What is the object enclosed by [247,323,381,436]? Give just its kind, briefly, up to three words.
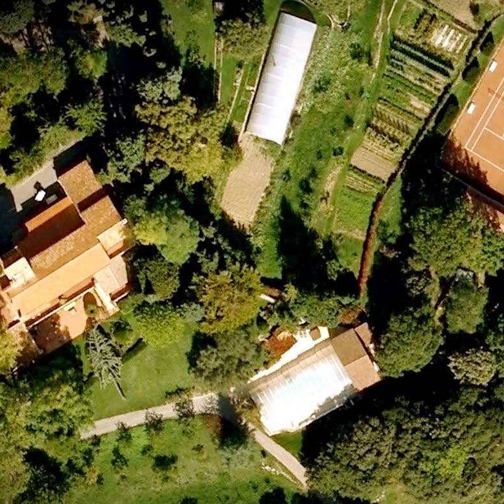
building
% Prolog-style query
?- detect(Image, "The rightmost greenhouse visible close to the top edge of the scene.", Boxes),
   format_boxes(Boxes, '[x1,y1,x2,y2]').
[244,11,319,144]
